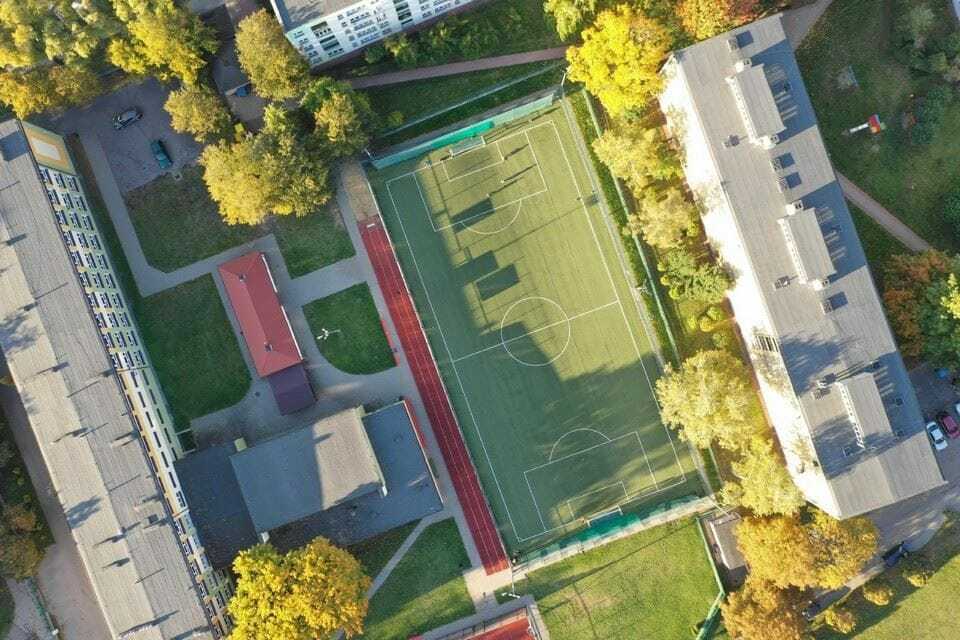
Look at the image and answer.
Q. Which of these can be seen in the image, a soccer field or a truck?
soccer field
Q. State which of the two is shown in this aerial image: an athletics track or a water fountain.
athletics track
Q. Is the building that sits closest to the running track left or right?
left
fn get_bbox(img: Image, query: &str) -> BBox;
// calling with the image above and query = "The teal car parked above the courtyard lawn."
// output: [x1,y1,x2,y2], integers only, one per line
[150,139,173,169]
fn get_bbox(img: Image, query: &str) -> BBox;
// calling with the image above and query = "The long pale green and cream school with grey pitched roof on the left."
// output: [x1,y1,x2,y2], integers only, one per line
[0,113,250,640]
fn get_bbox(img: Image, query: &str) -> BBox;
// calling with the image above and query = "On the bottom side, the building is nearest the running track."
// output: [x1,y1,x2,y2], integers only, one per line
[172,396,444,571]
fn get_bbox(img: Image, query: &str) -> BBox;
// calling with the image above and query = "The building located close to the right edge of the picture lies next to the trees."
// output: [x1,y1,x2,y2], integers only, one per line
[653,13,946,519]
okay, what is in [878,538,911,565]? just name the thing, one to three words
car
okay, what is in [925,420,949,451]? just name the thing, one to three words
car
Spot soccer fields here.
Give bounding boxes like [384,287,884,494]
[366,98,715,569]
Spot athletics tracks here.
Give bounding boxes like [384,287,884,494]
[357,216,510,575]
